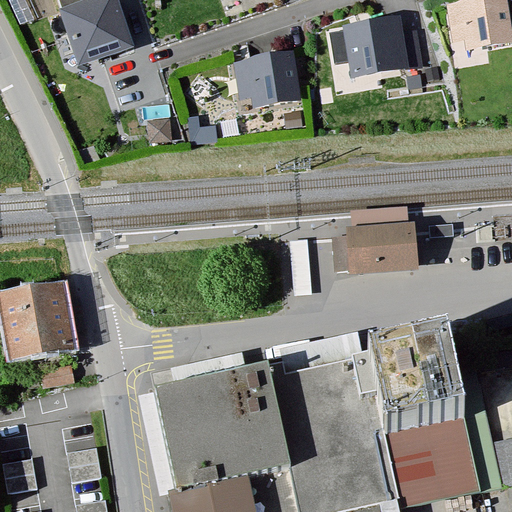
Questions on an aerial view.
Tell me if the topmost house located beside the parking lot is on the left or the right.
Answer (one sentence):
It is on the left.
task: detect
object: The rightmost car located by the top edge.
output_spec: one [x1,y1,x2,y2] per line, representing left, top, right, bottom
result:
[289,24,303,49]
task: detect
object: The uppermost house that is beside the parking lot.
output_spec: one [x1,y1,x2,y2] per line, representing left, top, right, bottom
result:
[0,279,80,364]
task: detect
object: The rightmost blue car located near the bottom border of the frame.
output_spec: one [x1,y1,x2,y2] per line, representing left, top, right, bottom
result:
[75,480,100,494]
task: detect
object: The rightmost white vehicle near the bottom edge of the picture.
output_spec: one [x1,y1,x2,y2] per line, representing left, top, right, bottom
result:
[78,490,104,504]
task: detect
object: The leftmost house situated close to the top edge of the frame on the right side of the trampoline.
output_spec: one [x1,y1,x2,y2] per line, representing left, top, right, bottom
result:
[60,0,135,64]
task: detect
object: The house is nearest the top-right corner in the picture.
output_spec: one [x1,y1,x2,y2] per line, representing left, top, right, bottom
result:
[446,0,512,53]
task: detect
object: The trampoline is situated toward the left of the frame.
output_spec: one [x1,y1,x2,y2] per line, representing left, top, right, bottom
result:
[49,18,66,34]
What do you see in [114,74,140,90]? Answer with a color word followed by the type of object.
black car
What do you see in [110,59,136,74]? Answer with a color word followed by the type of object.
red car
